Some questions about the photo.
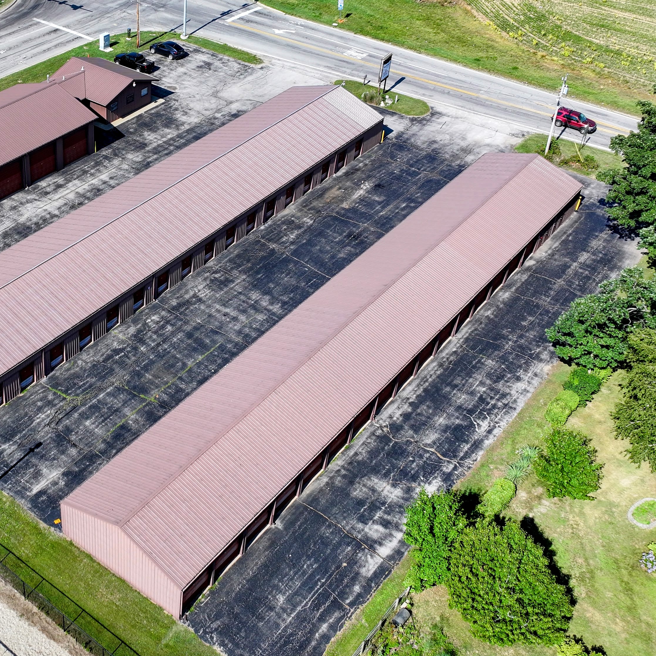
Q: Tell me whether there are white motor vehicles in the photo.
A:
No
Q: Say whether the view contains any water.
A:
No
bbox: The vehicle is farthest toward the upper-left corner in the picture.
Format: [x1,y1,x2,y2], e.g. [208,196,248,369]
[113,50,154,72]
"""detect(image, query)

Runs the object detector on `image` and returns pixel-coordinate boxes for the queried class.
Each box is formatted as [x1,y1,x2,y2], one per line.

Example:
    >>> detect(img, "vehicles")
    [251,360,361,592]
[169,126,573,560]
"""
[113,50,154,72]
[148,41,186,60]
[550,106,600,134]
